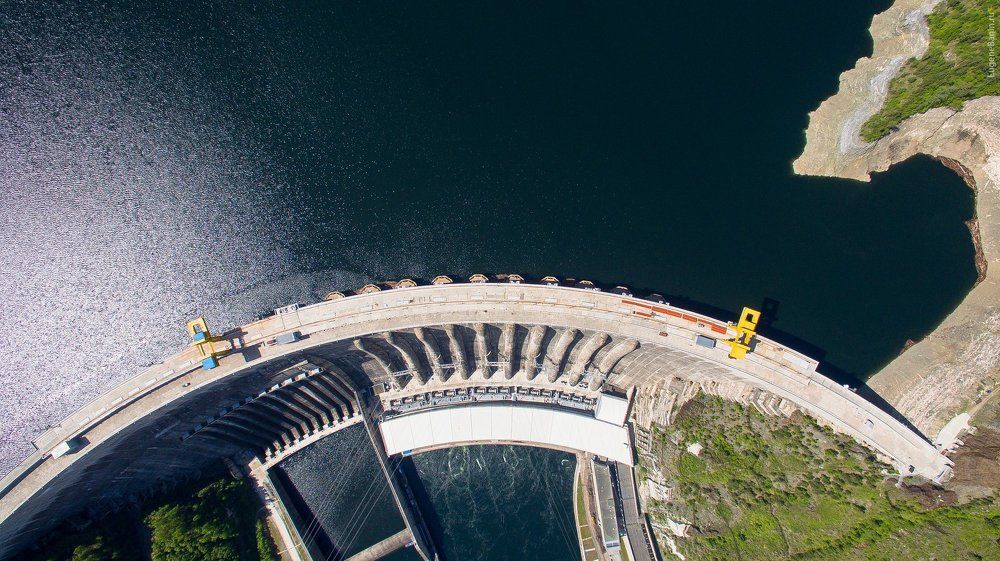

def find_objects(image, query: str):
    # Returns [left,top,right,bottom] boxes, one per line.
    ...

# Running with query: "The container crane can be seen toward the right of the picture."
[720,305,760,360]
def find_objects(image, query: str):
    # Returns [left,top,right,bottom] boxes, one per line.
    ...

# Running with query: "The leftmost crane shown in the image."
[191,316,234,370]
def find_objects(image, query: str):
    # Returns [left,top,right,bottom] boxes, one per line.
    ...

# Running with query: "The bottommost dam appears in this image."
[349,529,411,561]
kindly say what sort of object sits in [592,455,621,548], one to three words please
building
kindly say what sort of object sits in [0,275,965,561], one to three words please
dam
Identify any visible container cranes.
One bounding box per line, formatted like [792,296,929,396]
[191,316,234,370]
[720,305,760,360]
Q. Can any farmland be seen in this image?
No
